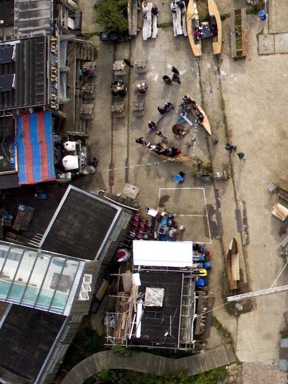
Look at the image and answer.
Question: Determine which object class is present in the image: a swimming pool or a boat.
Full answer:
This aerial view contains a boat.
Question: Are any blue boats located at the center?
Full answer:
No, no blue boat appears at the center.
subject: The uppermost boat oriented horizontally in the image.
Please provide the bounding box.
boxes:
[145,147,193,165]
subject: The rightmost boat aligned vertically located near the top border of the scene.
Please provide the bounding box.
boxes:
[208,0,222,54]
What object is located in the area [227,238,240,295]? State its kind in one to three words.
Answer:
boat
